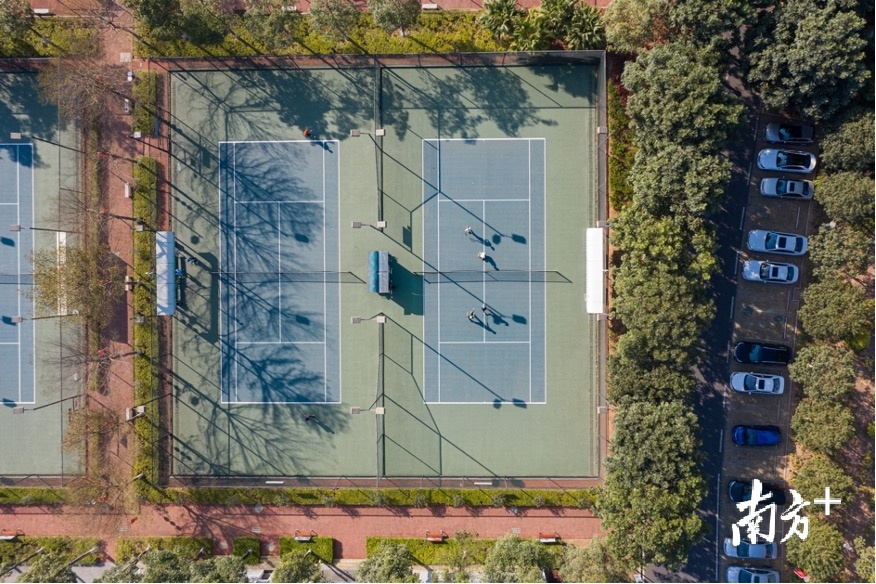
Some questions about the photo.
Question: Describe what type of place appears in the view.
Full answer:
The picture captures a sports ground.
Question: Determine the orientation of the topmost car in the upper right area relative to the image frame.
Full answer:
The topmost car in the upper right area runs from left to right in the image.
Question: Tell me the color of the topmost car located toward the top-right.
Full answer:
From above, the topmost car located toward the top-right appears black.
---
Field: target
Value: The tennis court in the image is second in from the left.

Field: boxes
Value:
[169,66,383,476]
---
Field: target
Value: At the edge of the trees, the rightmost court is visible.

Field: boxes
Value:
[381,62,597,478]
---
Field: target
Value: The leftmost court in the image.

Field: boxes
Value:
[0,70,83,474]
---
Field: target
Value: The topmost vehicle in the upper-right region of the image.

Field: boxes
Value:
[760,120,816,146]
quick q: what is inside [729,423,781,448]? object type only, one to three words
car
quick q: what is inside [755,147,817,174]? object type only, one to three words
car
